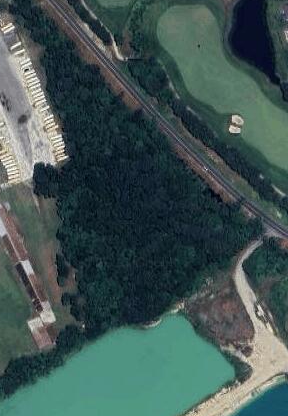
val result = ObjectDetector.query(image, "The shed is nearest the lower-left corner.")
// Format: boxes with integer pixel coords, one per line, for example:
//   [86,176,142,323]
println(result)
[30,325,53,351]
